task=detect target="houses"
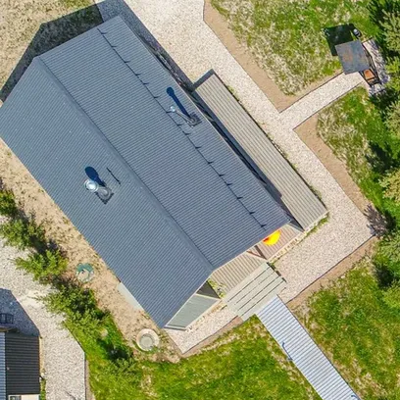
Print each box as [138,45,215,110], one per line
[0,17,330,328]
[0,328,40,400]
